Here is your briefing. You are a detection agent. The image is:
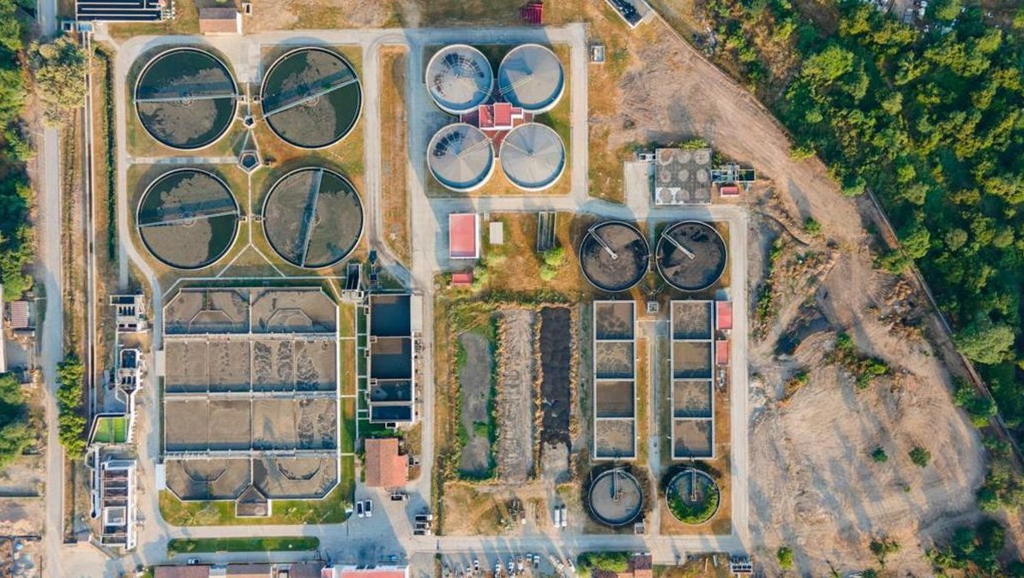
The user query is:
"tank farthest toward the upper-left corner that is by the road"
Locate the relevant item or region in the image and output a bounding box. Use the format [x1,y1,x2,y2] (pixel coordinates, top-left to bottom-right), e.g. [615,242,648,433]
[134,47,242,151]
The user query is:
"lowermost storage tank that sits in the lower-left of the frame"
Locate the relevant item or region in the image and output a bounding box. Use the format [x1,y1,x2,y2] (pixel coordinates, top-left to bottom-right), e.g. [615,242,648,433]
[87,412,137,449]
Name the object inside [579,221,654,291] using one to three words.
storage tank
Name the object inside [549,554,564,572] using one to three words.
vehicle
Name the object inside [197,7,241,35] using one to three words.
house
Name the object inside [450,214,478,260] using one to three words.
building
